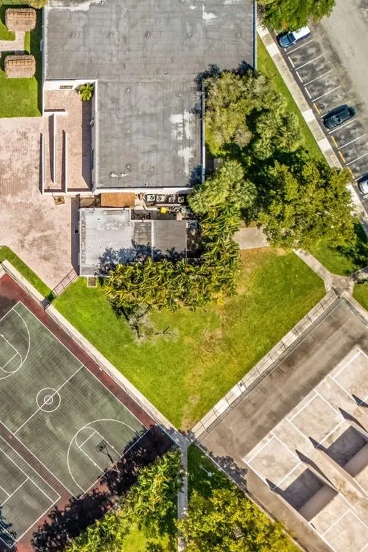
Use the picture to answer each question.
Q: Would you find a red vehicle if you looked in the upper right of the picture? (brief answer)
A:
No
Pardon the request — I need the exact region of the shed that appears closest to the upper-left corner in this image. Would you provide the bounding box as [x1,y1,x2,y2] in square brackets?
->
[5,8,37,34]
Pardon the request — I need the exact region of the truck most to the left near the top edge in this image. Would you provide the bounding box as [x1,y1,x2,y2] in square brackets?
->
[274,22,314,51]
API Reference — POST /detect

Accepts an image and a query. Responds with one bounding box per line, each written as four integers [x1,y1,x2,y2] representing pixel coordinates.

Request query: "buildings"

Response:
[3,55,36,79]
[75,208,153,277]
[42,0,255,193]
[5,8,37,34]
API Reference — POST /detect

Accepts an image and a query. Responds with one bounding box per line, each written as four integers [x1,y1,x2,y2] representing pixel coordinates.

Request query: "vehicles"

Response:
[274,22,314,51]
[321,105,353,128]
[355,178,368,195]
